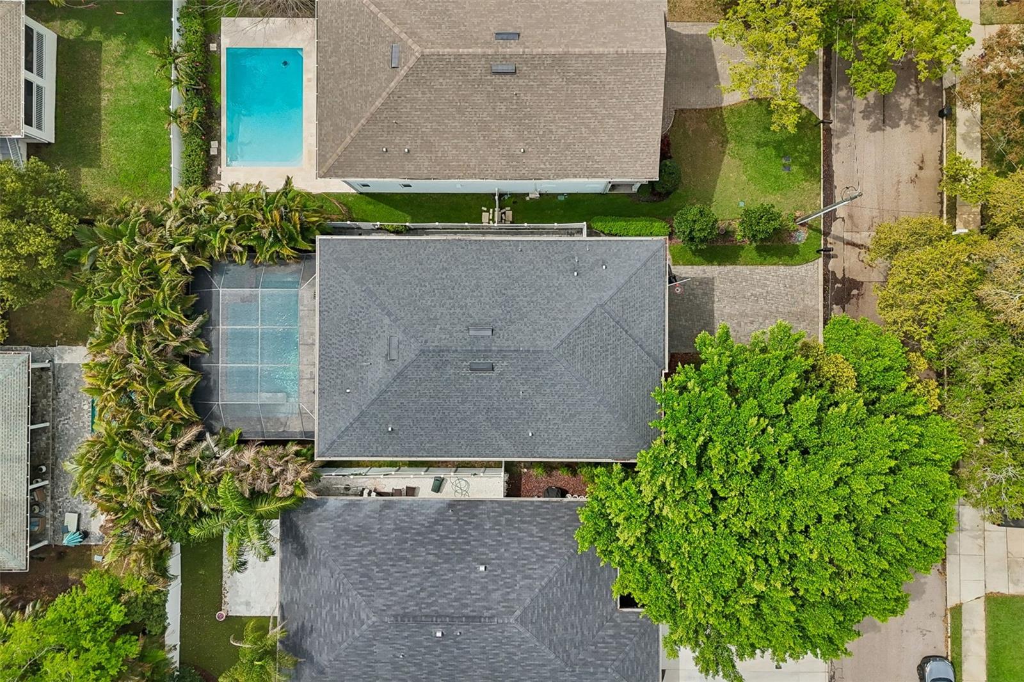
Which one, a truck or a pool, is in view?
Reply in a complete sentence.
Looking from above, you can make out a pool.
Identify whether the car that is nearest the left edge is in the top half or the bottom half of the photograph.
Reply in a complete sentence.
The bottom half of the photo is where the car that is nearest the left edge is.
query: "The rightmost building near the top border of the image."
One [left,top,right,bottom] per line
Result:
[314,0,673,193]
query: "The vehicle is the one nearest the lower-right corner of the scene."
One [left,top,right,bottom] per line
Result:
[920,654,960,682]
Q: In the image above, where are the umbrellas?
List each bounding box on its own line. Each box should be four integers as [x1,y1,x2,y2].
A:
[60,529,89,548]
